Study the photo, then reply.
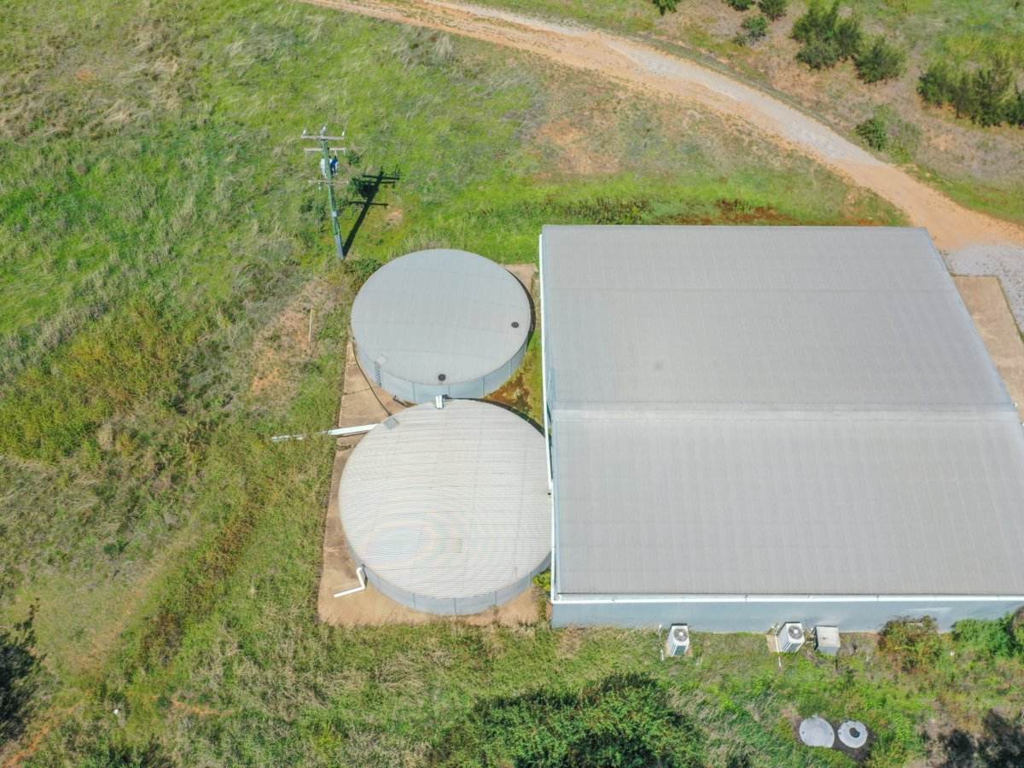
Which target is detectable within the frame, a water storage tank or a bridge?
water storage tank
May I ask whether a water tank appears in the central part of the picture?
Yes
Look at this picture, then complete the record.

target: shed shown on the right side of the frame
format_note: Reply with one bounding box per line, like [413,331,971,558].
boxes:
[538,225,1024,631]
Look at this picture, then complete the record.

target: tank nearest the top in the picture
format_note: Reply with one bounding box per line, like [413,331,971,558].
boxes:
[351,249,531,409]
